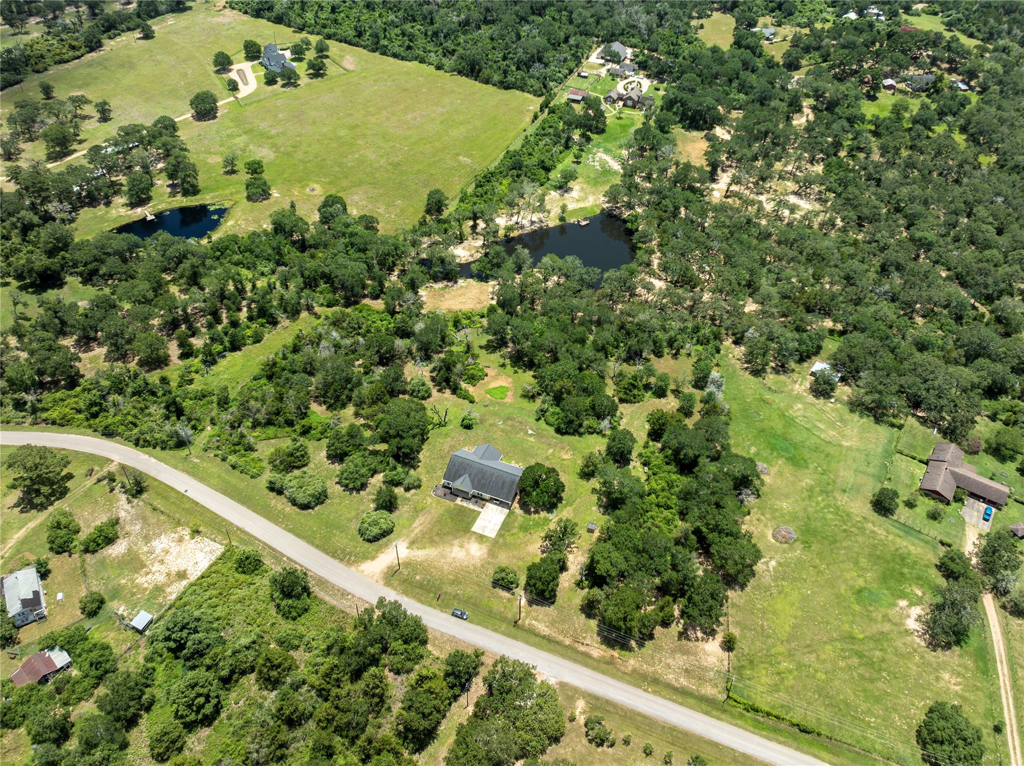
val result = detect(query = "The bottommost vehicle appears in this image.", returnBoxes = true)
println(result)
[449,607,470,622]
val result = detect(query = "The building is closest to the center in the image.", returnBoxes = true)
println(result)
[442,444,528,509]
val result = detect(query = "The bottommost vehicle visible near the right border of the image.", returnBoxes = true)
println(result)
[983,505,995,521]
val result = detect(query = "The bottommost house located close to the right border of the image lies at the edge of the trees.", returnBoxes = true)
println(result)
[920,444,1010,507]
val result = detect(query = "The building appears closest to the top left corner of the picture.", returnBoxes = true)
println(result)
[261,40,302,78]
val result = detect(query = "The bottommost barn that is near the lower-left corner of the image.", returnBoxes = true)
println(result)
[10,644,75,693]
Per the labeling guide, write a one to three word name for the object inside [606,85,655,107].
house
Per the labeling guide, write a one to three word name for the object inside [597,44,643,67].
barn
